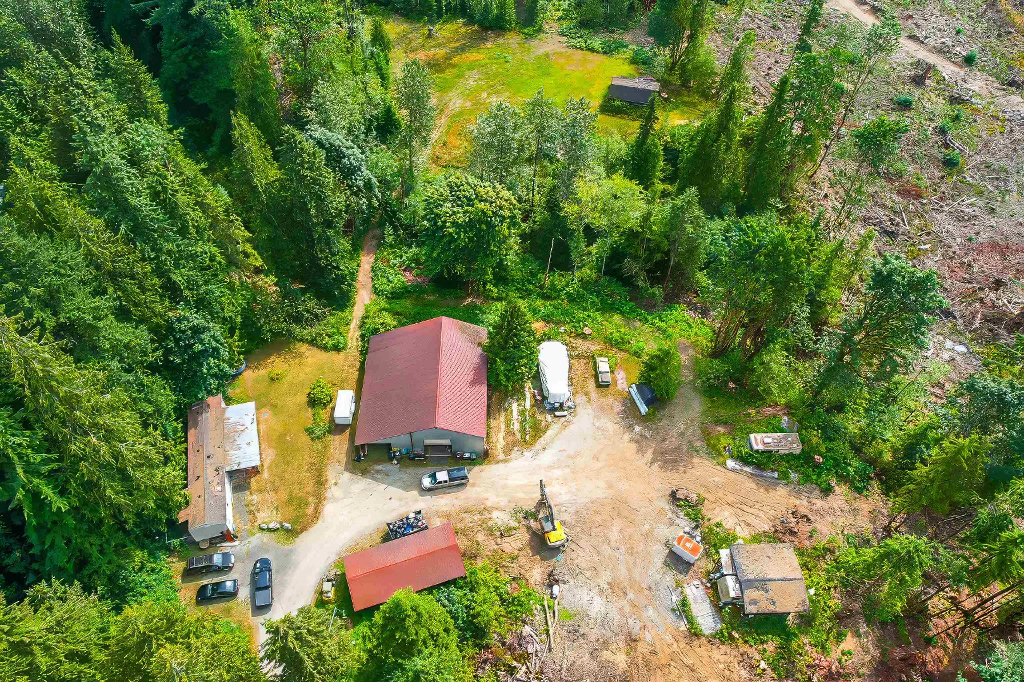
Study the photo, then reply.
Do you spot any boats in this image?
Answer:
Yes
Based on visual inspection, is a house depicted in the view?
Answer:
Yes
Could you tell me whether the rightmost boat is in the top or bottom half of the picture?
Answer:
bottom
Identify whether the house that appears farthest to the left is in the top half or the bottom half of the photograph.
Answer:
bottom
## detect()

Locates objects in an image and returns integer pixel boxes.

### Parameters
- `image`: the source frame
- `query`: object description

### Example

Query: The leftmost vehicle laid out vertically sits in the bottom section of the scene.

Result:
[251,556,277,611]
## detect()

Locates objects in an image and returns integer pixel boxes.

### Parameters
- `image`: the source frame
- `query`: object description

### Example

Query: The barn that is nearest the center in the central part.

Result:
[355,318,488,462]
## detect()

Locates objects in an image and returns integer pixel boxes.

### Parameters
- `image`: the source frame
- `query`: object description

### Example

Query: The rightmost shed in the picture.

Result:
[730,544,808,622]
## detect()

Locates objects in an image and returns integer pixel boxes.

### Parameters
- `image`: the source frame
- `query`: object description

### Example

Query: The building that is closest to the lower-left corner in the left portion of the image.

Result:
[163,390,251,540]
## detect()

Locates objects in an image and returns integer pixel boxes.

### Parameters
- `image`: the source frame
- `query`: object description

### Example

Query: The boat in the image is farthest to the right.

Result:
[674,533,709,565]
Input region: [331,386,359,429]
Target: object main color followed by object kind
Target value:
white trailer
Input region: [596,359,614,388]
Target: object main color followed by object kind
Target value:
white vehicle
